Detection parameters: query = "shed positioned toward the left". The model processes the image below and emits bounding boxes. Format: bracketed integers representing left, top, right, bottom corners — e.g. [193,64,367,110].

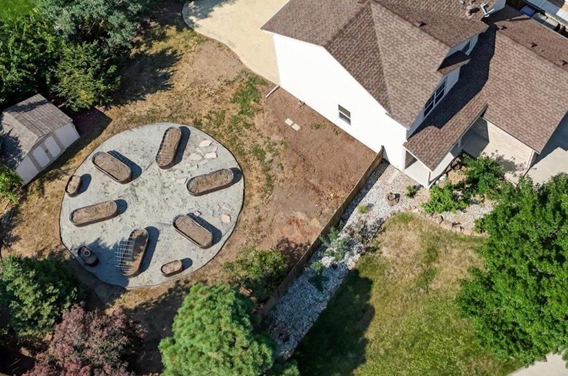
[0,88,84,182]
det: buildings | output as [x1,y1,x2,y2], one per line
[259,0,568,189]
[0,88,84,182]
